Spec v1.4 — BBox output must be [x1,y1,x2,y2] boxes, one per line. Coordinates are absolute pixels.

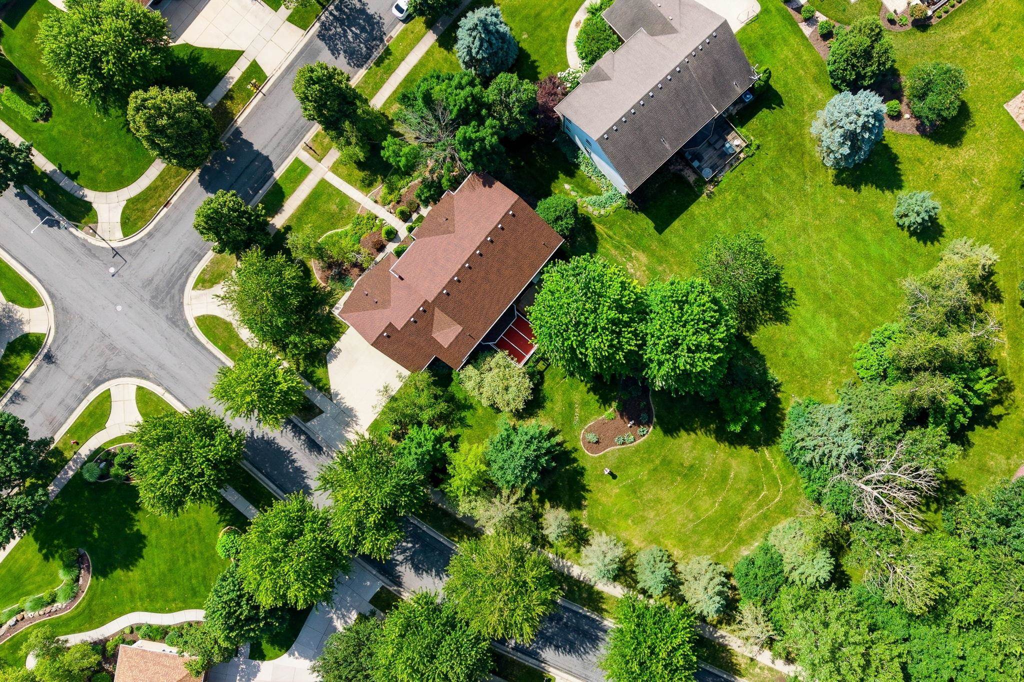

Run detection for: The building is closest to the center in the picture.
[338,172,564,377]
